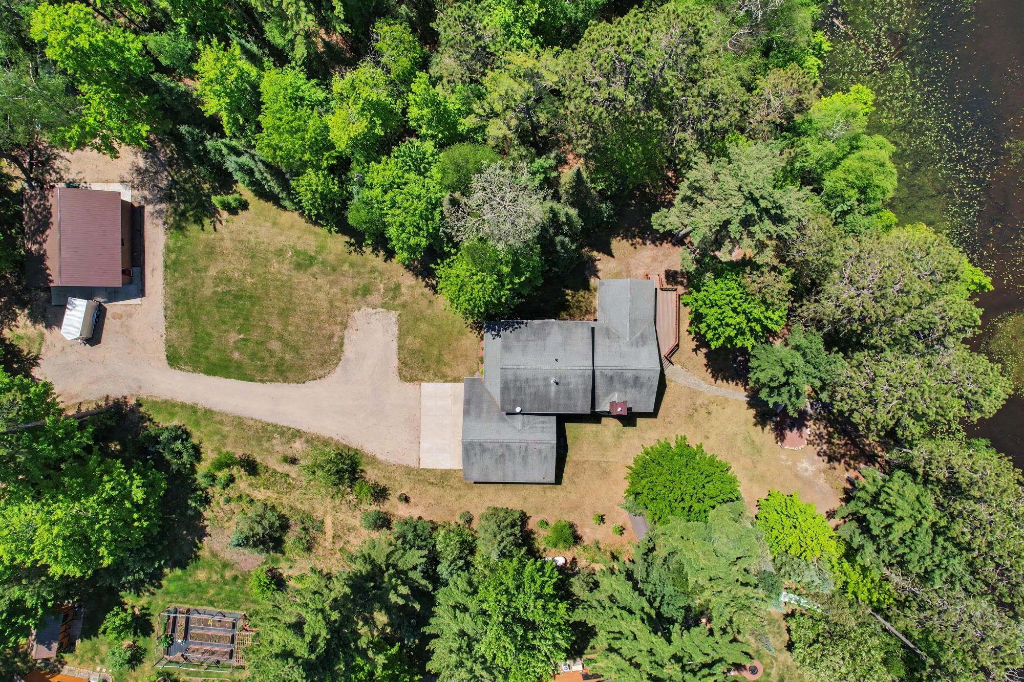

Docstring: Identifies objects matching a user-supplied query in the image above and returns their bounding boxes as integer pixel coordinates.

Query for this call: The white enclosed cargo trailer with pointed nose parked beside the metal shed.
[60,297,104,351]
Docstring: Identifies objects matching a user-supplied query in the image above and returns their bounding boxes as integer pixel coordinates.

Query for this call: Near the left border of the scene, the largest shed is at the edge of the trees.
[23,185,136,287]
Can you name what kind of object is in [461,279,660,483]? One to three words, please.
house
